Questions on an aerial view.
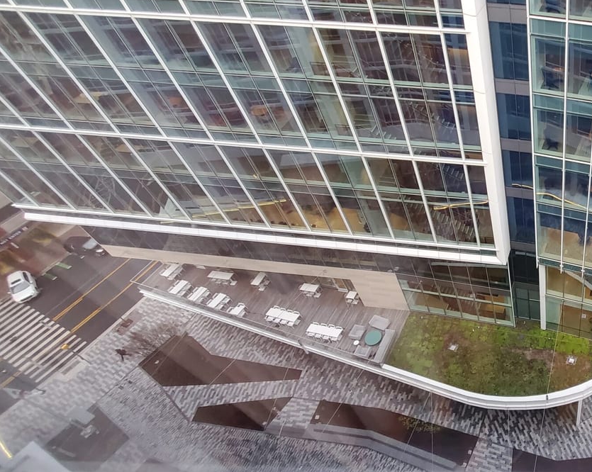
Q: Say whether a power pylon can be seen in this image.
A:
No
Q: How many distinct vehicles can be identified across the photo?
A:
2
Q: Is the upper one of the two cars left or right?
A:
left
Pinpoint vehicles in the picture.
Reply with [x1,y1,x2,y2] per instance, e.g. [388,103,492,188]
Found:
[70,236,103,264]
[6,270,38,306]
